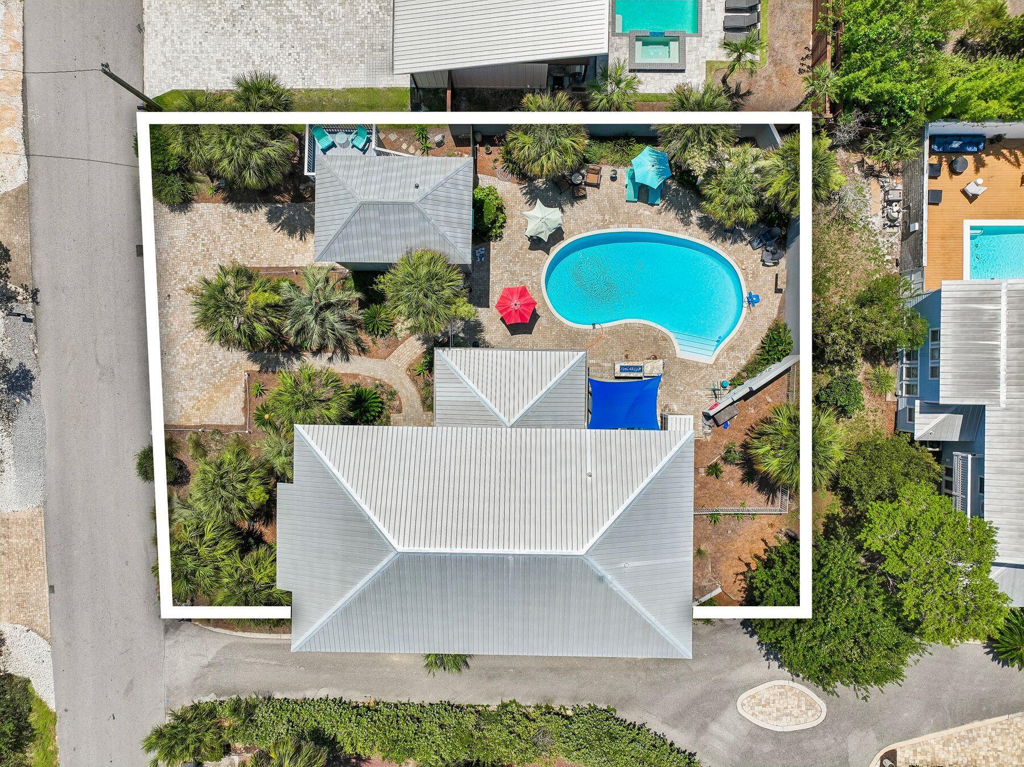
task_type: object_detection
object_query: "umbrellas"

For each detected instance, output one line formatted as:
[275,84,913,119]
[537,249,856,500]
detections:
[631,148,671,189]
[523,200,561,241]
[495,286,537,324]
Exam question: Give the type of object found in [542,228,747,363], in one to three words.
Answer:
swimming pool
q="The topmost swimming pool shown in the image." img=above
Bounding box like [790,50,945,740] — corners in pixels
[612,0,702,36]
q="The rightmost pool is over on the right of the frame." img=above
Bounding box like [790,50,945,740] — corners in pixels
[964,219,1024,279]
